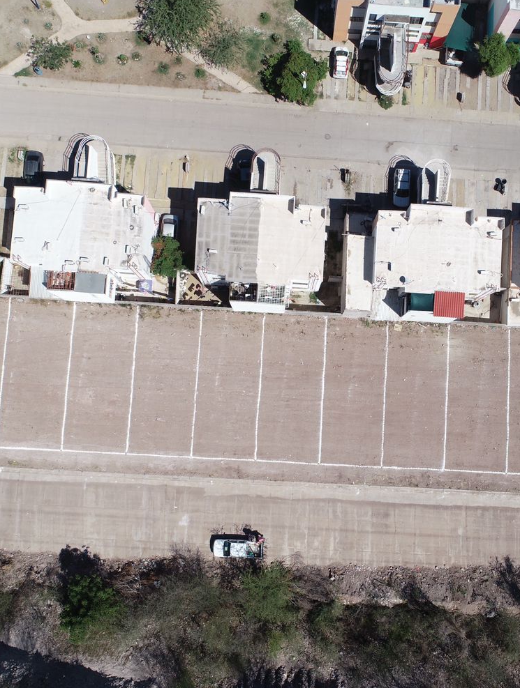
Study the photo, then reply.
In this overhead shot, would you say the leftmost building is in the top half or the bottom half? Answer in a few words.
top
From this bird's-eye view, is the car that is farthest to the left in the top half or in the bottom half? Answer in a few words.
top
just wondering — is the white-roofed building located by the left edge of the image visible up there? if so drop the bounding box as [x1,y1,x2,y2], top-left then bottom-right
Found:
[11,136,161,304]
